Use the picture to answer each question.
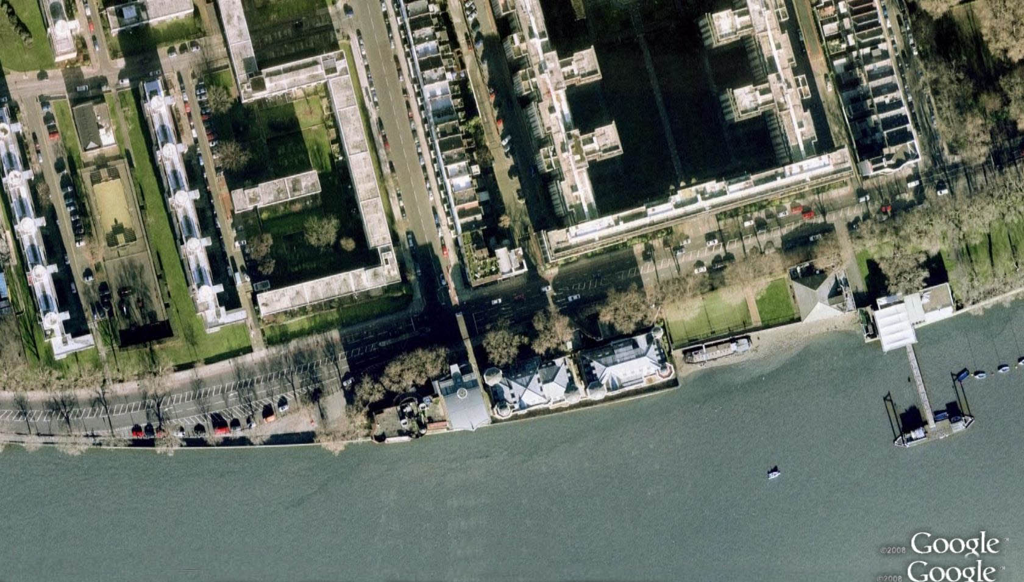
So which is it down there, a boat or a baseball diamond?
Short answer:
boat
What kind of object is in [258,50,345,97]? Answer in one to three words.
building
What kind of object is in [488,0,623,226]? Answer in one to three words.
building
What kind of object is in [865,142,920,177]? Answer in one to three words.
house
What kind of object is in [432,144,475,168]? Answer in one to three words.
house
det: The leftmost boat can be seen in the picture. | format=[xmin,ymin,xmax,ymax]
[683,336,752,364]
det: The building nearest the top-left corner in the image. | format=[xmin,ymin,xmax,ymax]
[37,0,80,68]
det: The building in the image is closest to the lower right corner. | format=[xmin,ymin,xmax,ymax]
[873,283,953,352]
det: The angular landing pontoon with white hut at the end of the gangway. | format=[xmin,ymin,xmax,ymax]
[894,417,974,448]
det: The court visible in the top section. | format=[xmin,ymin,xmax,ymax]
[81,160,152,261]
